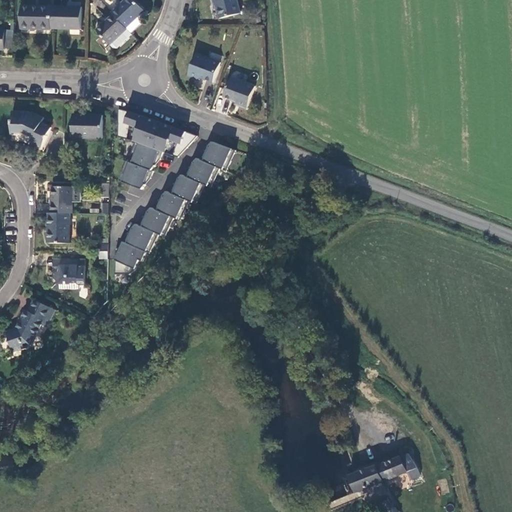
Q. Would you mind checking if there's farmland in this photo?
Yes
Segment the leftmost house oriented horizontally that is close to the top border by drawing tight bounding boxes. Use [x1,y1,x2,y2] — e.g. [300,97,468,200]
[18,7,86,30]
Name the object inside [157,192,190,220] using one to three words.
house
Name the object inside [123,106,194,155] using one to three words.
building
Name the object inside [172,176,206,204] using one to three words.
house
